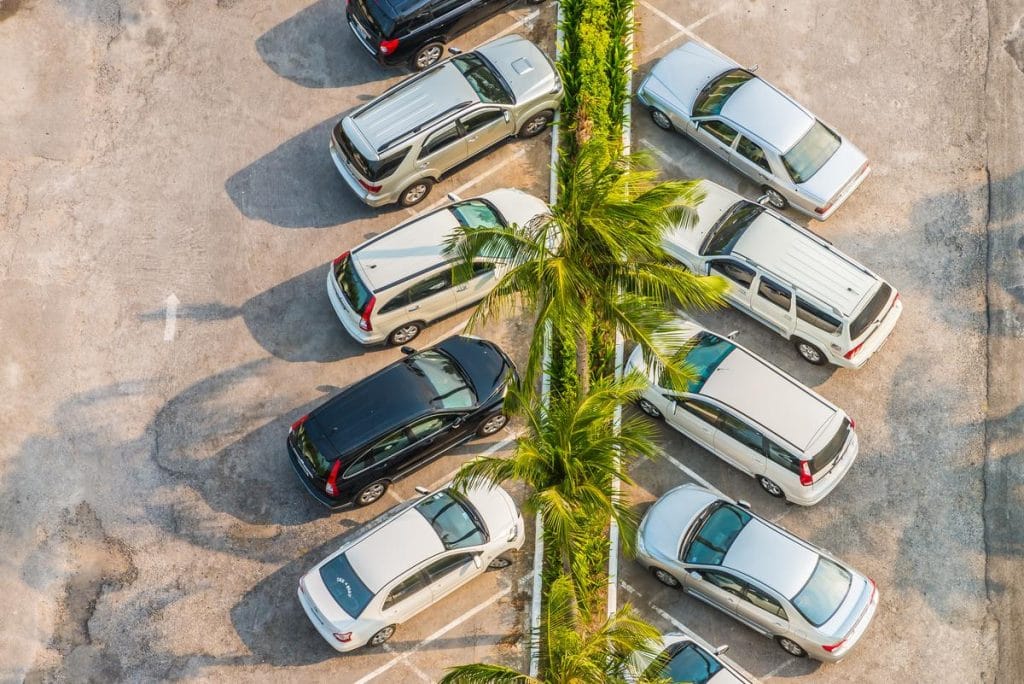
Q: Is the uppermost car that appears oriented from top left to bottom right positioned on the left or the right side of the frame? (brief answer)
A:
right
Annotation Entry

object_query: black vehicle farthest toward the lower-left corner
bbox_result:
[287,334,522,510]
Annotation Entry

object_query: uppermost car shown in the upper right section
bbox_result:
[636,38,870,223]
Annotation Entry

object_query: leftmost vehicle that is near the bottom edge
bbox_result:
[294,473,529,654]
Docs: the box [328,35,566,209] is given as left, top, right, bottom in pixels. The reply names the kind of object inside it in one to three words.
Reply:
car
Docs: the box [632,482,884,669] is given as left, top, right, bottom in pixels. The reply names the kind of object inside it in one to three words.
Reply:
car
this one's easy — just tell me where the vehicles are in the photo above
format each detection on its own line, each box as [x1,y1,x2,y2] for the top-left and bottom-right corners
[342,0,548,76]
[287,334,522,510]
[622,637,757,684]
[636,38,870,223]
[322,180,550,350]
[294,473,529,654]
[662,188,900,375]
[328,35,566,209]
[624,324,858,507]
[632,482,884,669]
